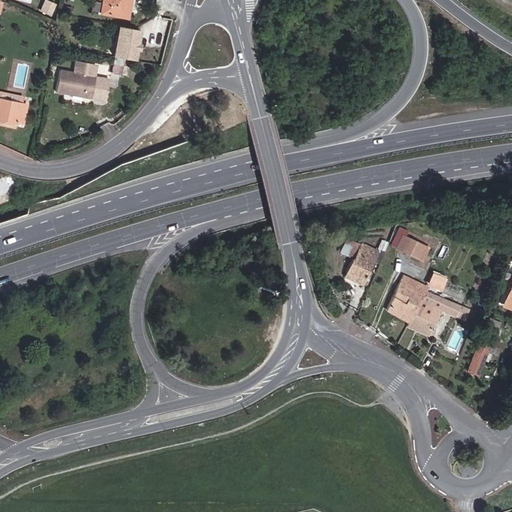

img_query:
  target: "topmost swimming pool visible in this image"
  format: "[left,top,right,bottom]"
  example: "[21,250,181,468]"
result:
[6,58,32,96]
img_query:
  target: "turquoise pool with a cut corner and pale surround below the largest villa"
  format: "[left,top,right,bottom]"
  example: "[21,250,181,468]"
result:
[444,326,465,355]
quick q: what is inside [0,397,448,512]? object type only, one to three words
sports field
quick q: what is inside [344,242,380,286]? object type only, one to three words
house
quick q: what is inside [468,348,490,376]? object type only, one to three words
shed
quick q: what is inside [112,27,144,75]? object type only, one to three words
house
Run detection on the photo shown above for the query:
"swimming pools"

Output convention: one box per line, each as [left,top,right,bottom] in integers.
[6,58,32,96]
[444,326,465,355]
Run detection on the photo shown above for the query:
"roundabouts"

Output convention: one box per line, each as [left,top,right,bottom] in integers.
[414,422,512,500]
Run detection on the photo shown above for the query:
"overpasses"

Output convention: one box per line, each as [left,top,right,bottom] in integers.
[248,115,302,246]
